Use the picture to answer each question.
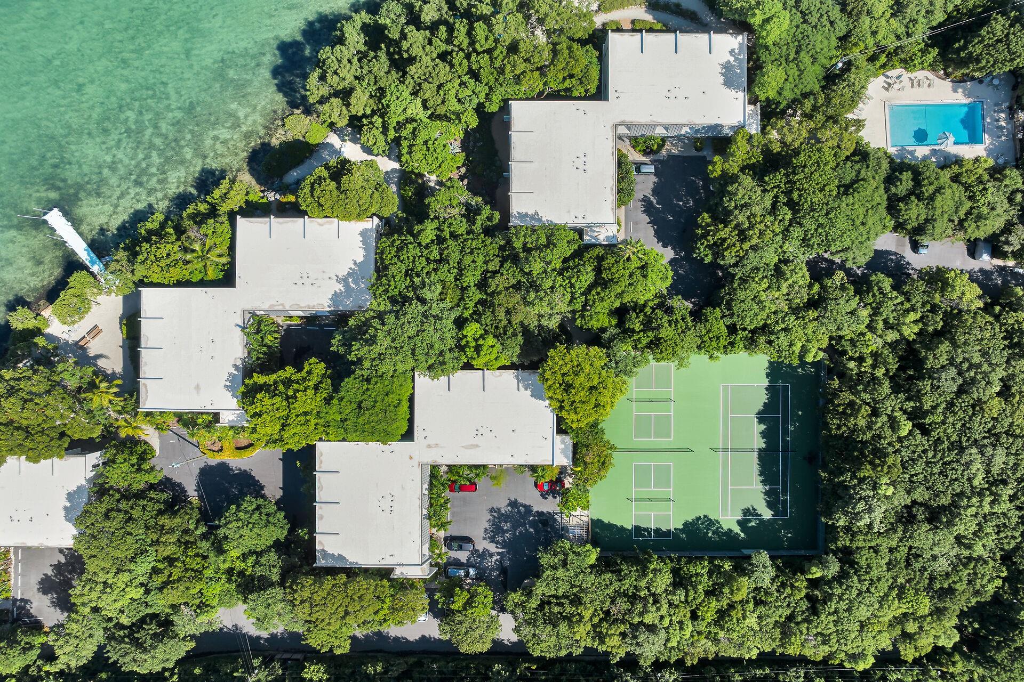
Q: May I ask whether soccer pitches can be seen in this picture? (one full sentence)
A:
No, no soccer pitch is visible in the scene.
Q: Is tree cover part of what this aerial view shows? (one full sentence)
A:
Yes, there is tree cover in the image.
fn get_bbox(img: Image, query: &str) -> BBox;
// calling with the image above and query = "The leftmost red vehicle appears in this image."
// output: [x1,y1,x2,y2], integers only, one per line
[448,482,478,496]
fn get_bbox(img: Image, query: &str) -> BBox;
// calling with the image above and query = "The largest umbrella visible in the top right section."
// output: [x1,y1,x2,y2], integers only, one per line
[935,130,954,147]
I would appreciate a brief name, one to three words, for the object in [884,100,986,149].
swimming pool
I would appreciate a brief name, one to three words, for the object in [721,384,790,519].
tennis court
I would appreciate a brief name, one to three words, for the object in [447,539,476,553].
car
